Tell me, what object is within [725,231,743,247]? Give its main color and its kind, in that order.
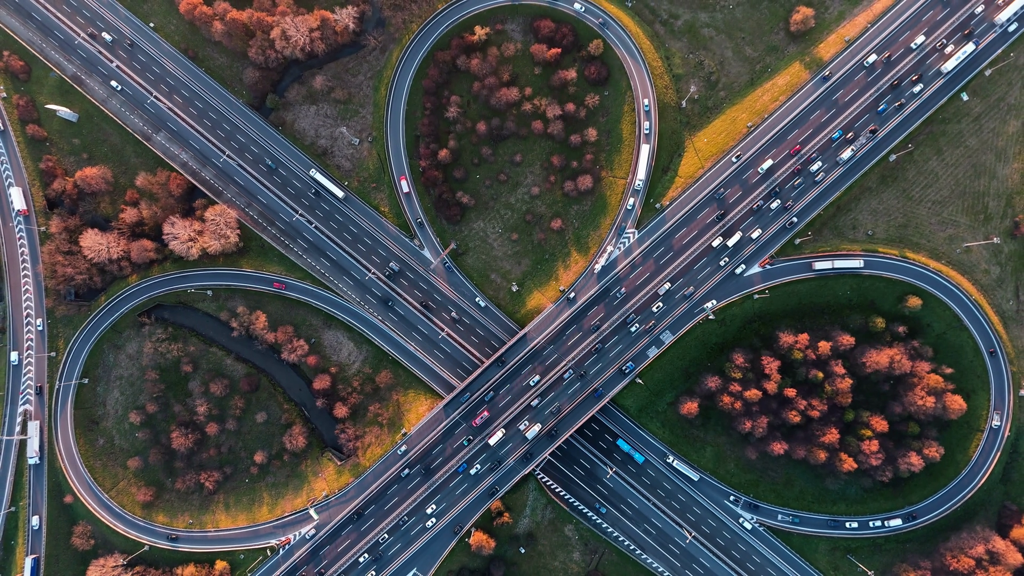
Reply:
white vehicle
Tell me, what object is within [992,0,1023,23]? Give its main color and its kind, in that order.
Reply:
white truck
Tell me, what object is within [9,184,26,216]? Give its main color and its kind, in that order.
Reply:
white vehicle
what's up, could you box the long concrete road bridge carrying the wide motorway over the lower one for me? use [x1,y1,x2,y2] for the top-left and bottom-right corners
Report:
[437,324,615,480]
